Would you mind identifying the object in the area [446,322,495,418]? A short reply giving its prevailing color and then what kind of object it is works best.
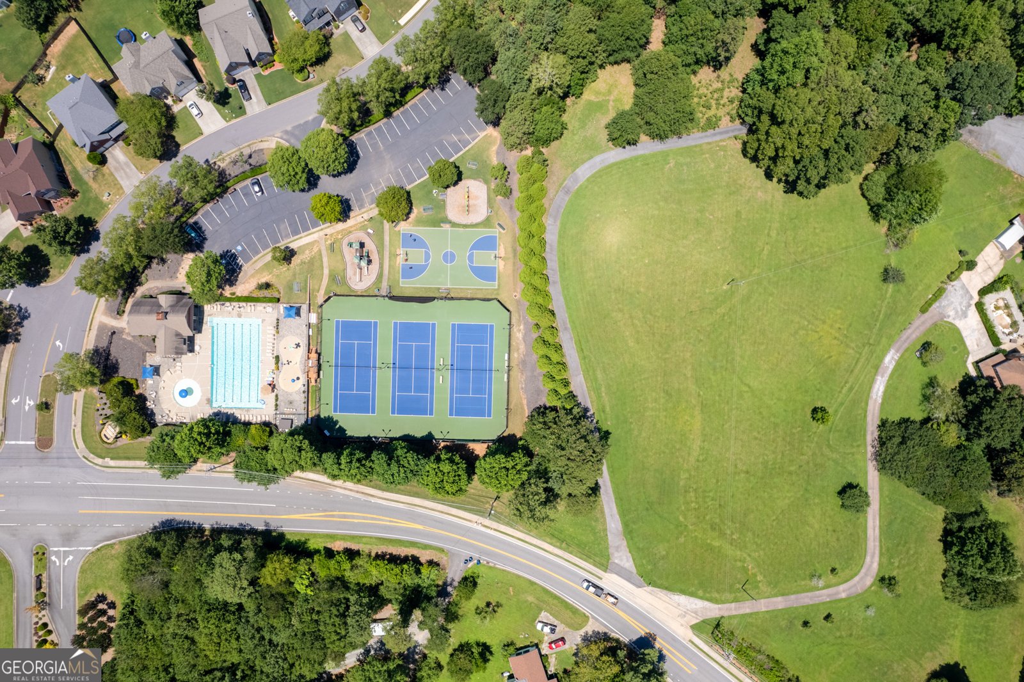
blue tennis court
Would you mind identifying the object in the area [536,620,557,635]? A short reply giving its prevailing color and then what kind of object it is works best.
white vehicle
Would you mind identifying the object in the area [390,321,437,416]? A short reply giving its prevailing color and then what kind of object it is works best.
blue tennis court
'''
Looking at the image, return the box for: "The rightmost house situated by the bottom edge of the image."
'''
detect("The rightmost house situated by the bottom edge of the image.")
[509,646,559,682]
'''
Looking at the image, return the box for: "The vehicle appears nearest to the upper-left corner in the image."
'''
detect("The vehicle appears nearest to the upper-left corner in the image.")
[187,100,204,119]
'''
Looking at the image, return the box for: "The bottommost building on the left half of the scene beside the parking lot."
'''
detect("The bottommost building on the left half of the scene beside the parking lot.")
[123,294,207,355]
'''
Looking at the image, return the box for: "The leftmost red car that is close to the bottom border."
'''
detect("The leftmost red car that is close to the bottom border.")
[548,637,567,650]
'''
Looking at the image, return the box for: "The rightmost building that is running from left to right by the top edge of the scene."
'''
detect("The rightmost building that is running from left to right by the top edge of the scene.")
[287,0,361,34]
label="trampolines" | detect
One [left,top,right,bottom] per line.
[117,28,136,46]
